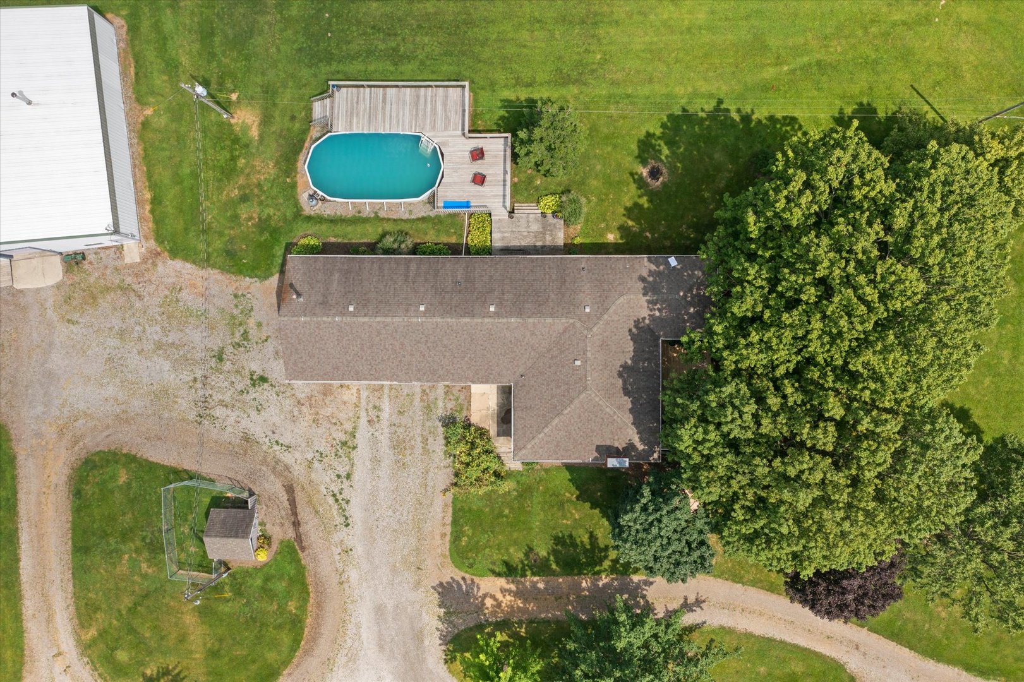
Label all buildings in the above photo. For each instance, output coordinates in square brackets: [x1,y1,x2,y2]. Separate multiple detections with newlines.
[203,503,261,560]
[280,254,719,469]
[0,0,141,259]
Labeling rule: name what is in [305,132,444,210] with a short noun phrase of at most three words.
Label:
swimming pool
